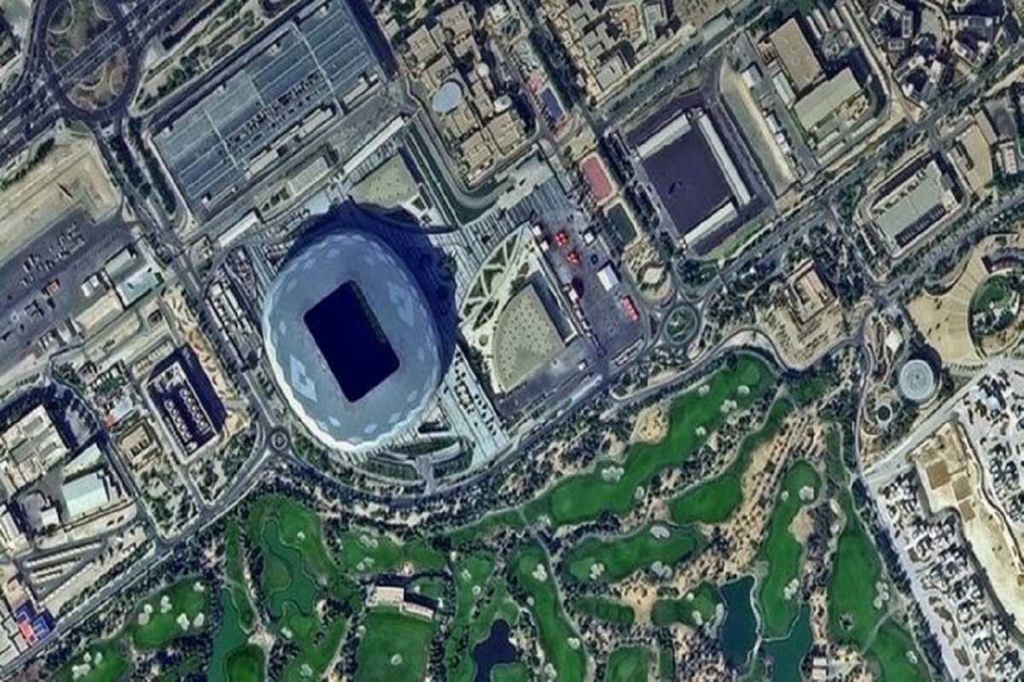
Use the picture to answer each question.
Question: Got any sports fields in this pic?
Yes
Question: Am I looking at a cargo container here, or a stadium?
stadium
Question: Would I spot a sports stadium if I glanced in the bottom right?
No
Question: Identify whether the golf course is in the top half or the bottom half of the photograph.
bottom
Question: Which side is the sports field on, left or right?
left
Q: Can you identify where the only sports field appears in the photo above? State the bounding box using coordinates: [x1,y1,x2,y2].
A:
[314,294,389,389]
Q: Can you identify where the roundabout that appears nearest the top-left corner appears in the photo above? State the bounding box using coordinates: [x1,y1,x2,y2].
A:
[37,0,141,117]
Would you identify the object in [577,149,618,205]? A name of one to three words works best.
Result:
sports court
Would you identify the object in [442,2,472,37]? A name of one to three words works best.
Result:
house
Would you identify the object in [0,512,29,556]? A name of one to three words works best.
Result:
building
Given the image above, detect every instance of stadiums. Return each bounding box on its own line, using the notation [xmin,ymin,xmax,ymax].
[261,228,443,458]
